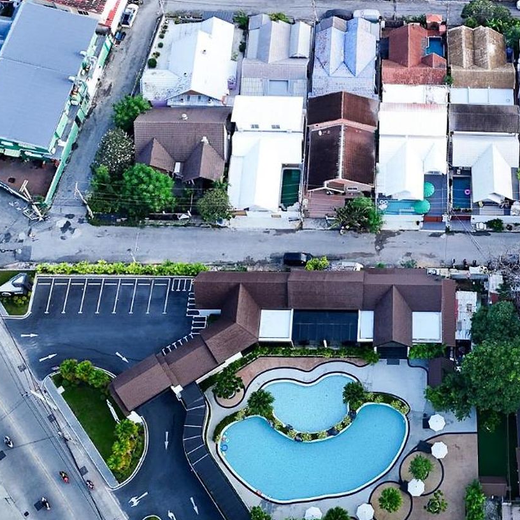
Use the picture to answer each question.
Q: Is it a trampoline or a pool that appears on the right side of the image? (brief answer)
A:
pool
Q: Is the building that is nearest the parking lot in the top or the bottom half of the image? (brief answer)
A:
bottom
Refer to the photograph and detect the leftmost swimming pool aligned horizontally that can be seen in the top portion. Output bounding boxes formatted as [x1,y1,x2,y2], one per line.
[378,198,417,214]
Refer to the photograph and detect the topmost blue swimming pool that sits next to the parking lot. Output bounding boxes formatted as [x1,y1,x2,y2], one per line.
[259,373,360,434]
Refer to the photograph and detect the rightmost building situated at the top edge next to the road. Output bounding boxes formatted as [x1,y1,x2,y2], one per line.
[448,23,516,106]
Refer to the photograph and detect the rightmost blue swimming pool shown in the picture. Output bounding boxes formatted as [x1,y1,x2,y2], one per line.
[452,175,472,210]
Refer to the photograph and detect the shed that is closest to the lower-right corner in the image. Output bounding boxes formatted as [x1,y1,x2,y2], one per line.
[481,477,507,496]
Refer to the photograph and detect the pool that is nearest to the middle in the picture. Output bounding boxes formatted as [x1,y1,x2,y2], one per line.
[280,169,302,208]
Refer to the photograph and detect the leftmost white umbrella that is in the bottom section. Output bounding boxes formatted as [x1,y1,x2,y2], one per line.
[302,503,323,520]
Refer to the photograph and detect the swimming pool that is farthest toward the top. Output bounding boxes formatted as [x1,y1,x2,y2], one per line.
[428,36,445,56]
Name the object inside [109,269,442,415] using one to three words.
building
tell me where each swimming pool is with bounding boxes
[378,198,417,214]
[259,373,360,434]
[452,175,472,210]
[280,169,302,208]
[428,36,445,56]
[218,402,409,503]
